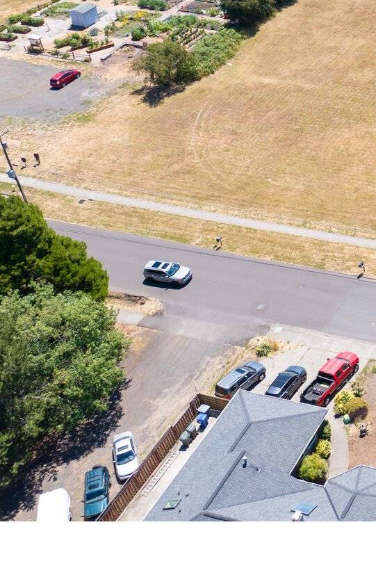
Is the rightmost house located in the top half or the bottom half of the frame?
bottom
